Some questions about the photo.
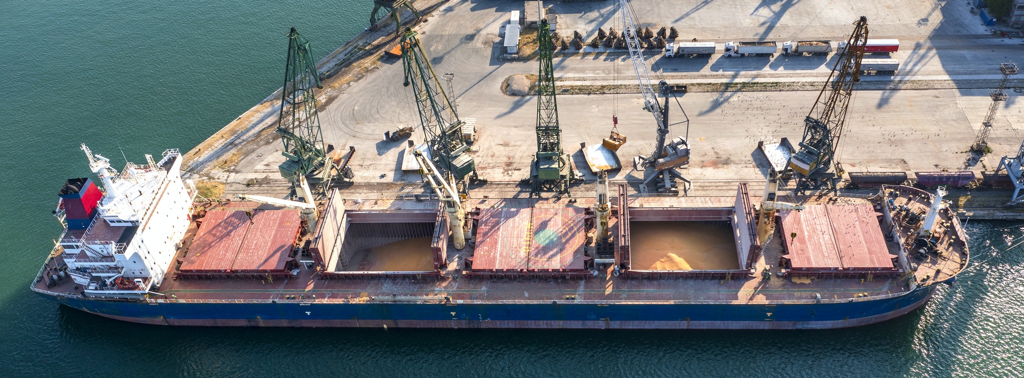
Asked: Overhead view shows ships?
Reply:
Yes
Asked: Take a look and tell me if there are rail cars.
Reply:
Yes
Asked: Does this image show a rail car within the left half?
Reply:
No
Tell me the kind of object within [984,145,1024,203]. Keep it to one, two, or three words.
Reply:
crane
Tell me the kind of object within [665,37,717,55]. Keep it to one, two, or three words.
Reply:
vehicle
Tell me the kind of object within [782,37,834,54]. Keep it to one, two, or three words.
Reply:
vehicle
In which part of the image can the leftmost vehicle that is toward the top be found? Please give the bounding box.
[384,122,418,141]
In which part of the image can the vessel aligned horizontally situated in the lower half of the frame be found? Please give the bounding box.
[28,138,970,329]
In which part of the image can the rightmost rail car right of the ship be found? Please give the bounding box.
[974,165,1024,185]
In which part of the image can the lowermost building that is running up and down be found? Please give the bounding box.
[501,24,521,56]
